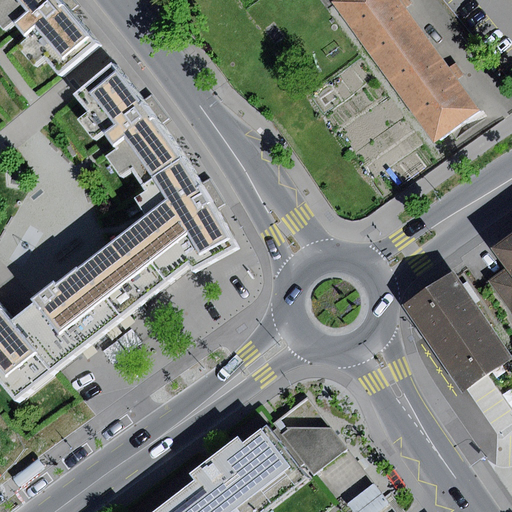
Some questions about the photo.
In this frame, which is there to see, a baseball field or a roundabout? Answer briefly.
roundabout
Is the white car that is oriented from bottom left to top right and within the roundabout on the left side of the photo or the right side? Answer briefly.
right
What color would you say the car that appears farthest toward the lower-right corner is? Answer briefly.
black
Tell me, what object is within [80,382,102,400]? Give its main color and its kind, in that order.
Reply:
black car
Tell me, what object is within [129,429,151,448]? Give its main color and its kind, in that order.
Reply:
black car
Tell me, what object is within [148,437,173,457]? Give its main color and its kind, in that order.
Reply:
white car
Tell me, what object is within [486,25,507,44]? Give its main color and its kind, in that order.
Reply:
white car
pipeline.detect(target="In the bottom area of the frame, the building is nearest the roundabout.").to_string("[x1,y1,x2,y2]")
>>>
[402,271,512,394]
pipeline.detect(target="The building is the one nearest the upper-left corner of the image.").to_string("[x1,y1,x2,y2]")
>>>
[0,0,106,78]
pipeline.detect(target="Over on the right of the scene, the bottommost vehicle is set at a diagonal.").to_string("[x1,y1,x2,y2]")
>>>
[449,486,468,510]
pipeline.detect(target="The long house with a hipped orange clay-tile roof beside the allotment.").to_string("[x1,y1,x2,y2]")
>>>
[330,0,488,141]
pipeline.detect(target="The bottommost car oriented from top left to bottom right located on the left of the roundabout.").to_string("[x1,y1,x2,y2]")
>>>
[203,300,221,321]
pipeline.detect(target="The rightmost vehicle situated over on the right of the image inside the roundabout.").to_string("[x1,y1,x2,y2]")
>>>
[372,292,394,317]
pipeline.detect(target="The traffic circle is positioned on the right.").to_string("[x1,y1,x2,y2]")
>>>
[270,238,402,369]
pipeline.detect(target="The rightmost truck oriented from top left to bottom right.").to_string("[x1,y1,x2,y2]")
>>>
[479,248,500,273]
